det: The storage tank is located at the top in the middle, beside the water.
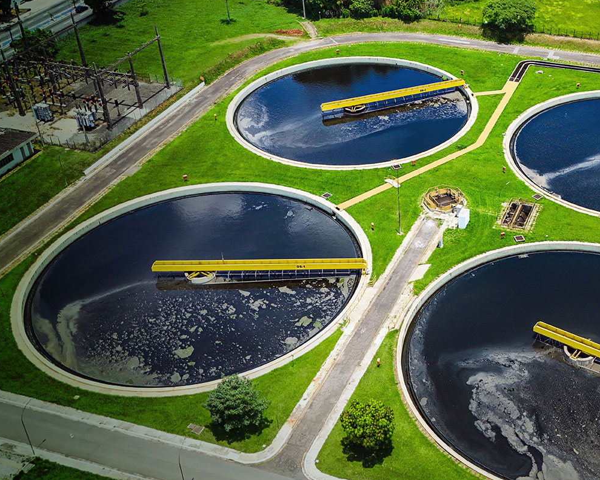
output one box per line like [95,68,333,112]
[225,57,477,171]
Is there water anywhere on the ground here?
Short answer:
Yes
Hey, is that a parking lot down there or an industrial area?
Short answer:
industrial area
